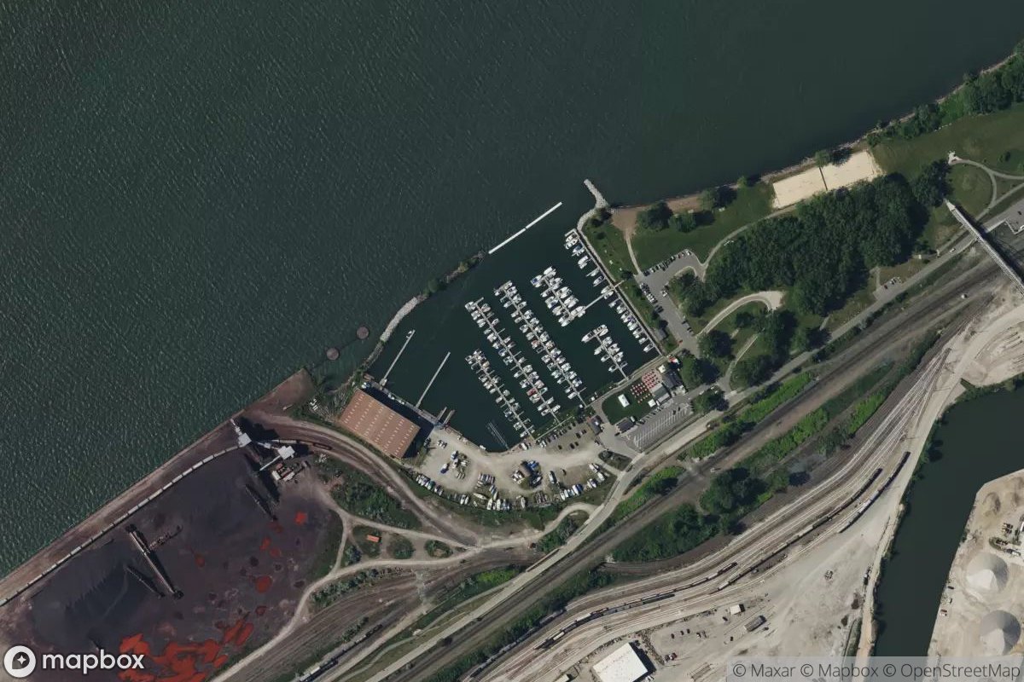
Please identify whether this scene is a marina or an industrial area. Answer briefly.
marina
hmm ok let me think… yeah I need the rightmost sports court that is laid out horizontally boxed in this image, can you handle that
[822,151,883,189]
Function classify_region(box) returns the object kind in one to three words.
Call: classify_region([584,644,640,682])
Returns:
building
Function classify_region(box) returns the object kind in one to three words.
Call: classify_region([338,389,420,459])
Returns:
building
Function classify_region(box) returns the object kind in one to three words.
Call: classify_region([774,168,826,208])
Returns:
sports court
